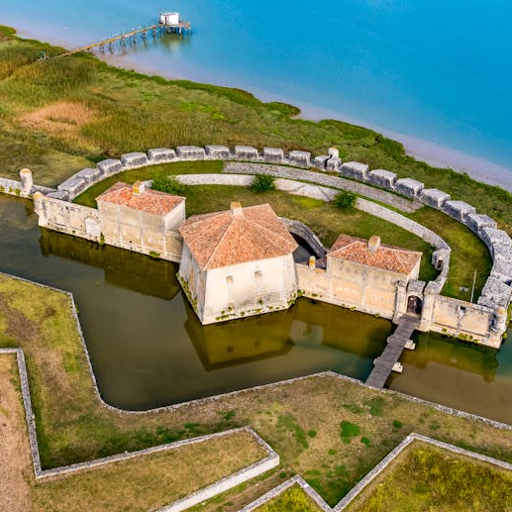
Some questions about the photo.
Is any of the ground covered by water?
Yes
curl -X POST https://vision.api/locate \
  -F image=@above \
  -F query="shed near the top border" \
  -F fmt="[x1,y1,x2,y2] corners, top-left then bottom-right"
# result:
[156,11,194,44]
